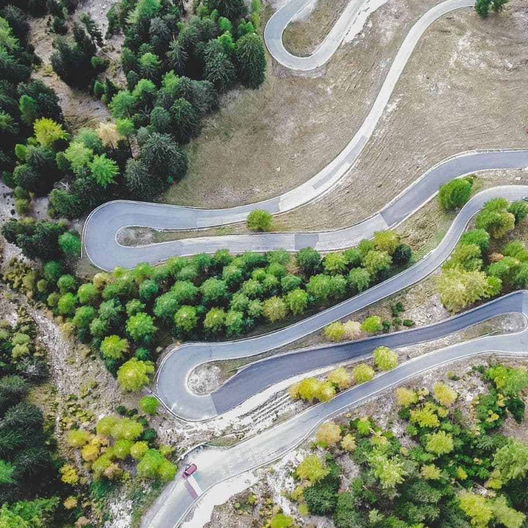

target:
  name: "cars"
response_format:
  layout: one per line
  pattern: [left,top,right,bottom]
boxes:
[523,194,528,202]
[181,464,198,481]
